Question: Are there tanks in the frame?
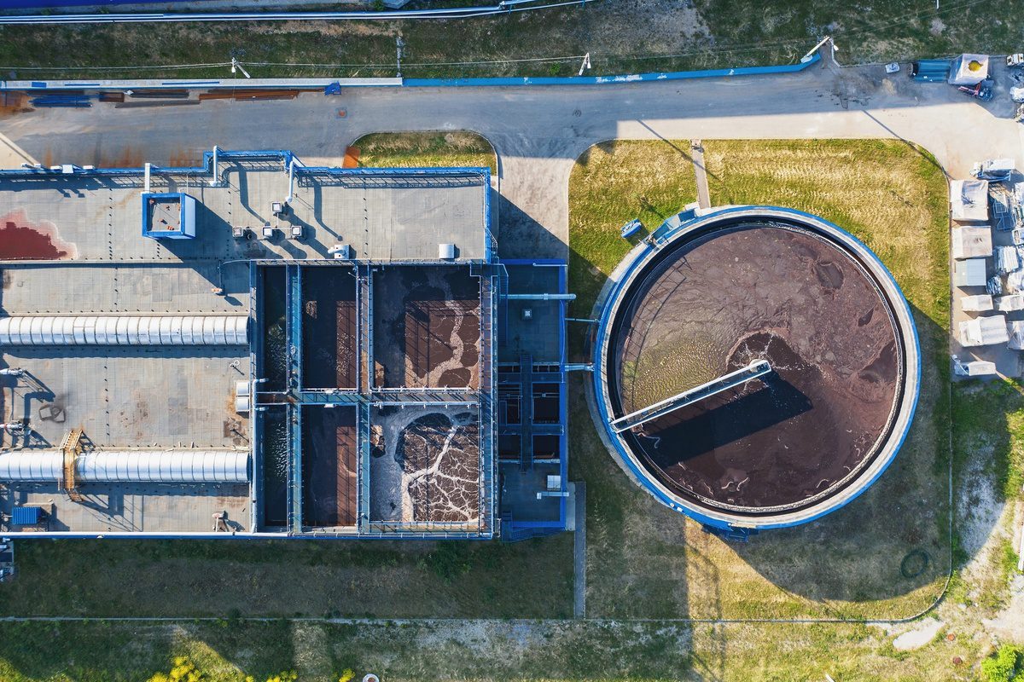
Yes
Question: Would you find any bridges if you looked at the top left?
No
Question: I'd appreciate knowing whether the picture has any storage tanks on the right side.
Yes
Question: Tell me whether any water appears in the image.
Yes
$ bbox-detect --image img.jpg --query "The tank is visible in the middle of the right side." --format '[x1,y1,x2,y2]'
[593,207,921,529]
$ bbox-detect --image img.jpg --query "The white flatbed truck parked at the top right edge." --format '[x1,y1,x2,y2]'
[996,52,1024,74]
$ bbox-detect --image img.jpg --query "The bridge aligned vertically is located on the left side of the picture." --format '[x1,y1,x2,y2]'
[59,431,87,503]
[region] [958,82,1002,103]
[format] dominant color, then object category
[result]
blue work vehicle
